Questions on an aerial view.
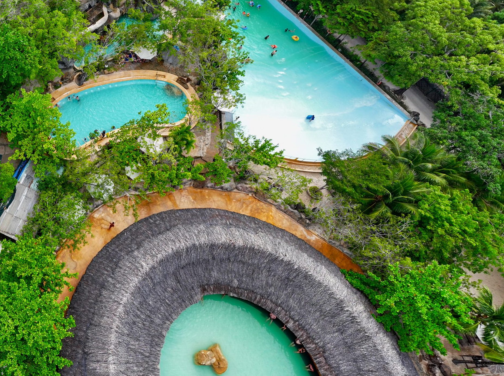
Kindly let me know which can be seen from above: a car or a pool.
pool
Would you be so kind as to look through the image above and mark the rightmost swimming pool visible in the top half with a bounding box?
[216,0,414,170]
